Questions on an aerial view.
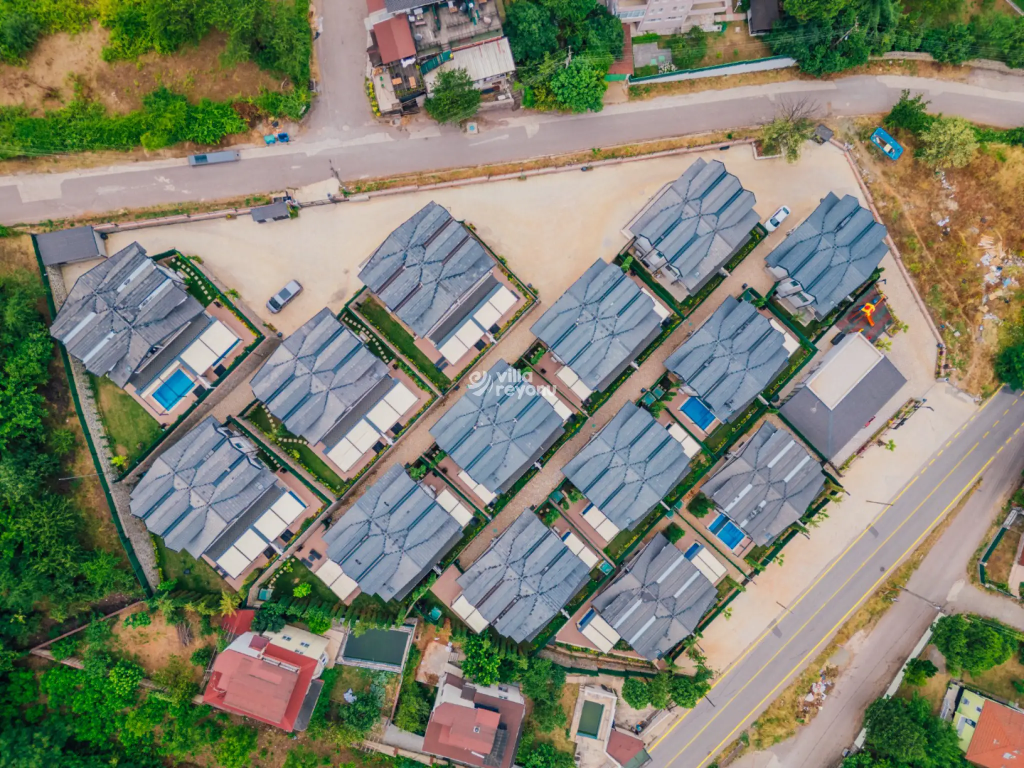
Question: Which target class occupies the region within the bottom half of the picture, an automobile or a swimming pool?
swimming pool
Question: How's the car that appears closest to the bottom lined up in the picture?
diagonally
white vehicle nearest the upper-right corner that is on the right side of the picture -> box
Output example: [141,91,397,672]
[766,204,793,235]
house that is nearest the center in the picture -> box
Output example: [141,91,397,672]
[432,358,566,493]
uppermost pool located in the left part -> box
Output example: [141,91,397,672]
[150,367,199,414]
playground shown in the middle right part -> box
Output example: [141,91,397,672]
[843,289,893,343]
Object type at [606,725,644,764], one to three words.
shed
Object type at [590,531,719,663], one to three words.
house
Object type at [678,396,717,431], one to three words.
swimming pool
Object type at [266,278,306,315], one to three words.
car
